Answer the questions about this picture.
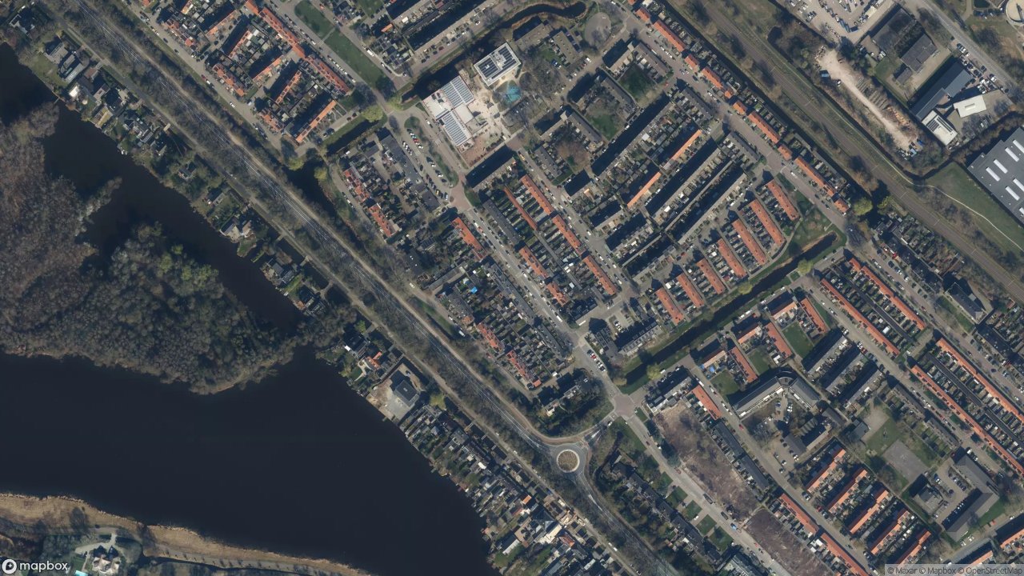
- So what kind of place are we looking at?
residential area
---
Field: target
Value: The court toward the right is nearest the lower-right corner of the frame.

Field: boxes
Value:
[882,441,928,482]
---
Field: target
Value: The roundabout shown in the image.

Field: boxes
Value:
[552,444,585,477]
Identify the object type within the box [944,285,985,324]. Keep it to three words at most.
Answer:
building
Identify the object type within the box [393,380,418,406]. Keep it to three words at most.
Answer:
house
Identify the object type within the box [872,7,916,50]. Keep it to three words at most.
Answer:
building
